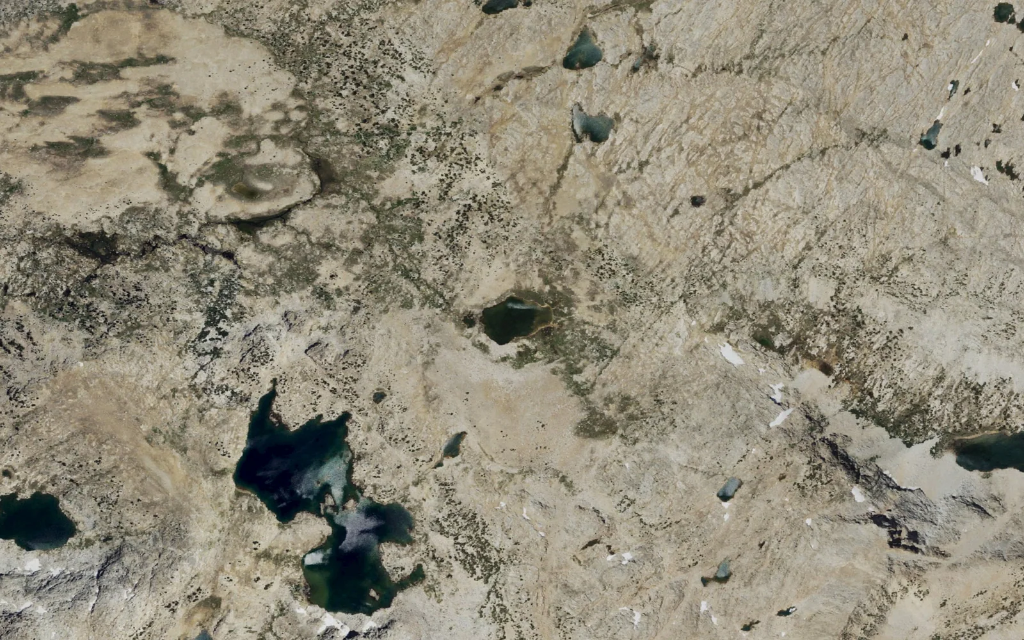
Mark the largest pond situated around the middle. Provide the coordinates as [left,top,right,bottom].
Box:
[480,296,553,345]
